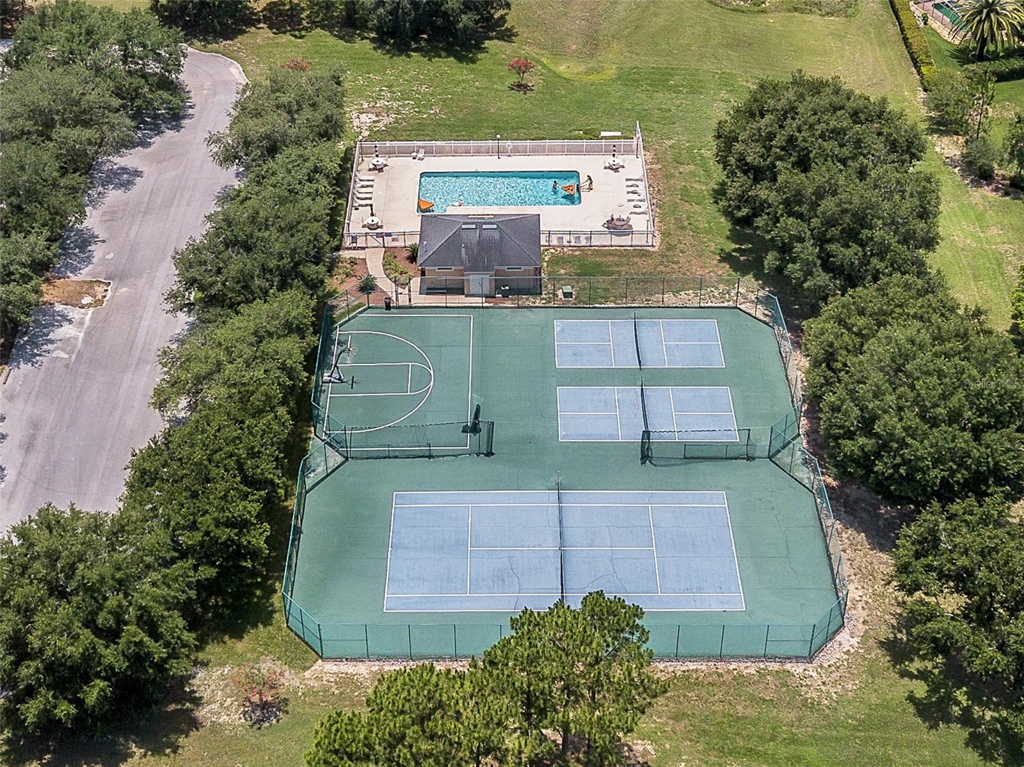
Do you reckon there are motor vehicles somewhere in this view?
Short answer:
No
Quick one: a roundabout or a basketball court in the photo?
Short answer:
basketball court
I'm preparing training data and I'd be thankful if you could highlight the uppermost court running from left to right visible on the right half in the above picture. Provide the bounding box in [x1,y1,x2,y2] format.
[554,319,725,367]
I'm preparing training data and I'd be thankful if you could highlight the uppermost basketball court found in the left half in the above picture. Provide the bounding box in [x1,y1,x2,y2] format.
[320,314,473,449]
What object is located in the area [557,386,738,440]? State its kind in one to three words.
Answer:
sports court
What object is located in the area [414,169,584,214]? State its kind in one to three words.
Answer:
swimming pool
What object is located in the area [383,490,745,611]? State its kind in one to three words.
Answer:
tennis court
